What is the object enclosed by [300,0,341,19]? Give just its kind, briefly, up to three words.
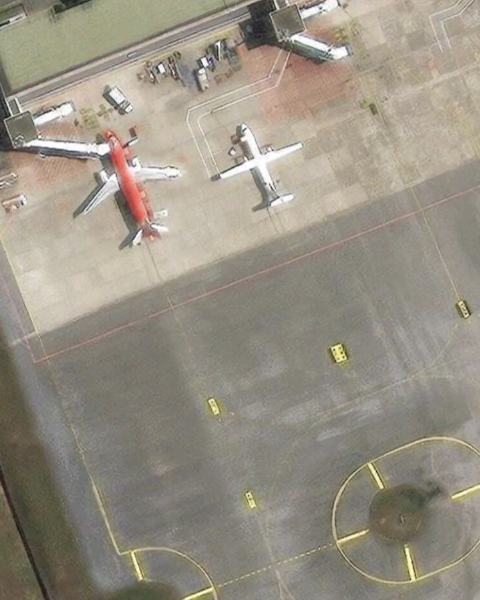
jet bridge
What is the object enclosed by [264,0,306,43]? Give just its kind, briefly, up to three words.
building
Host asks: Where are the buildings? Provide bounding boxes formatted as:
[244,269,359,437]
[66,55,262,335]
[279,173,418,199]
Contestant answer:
[264,0,306,43]
[0,0,258,101]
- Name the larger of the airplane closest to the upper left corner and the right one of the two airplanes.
the airplane closest to the upper left corner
